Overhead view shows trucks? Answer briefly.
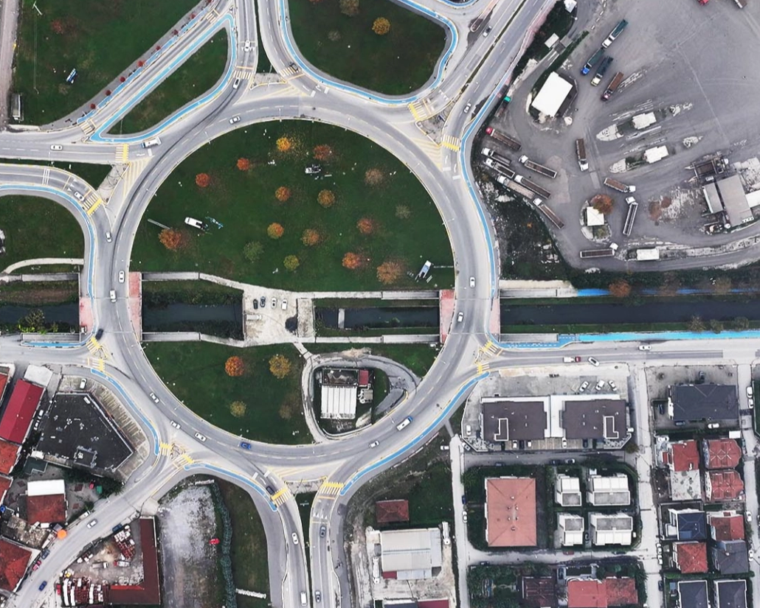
Yes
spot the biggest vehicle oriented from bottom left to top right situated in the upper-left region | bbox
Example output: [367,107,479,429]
[64,67,79,84]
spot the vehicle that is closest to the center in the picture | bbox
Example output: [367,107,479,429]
[419,260,432,278]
